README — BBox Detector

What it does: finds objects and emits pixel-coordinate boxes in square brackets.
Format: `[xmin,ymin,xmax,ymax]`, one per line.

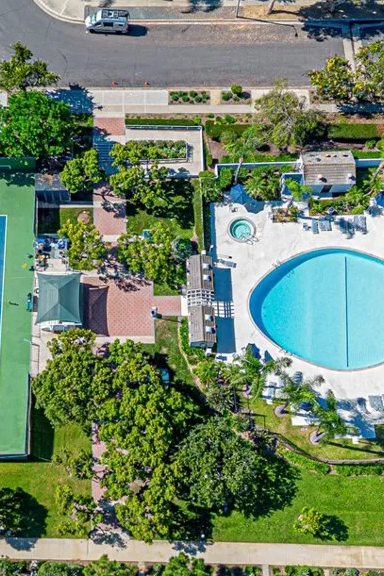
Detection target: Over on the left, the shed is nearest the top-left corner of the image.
[35,173,71,198]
